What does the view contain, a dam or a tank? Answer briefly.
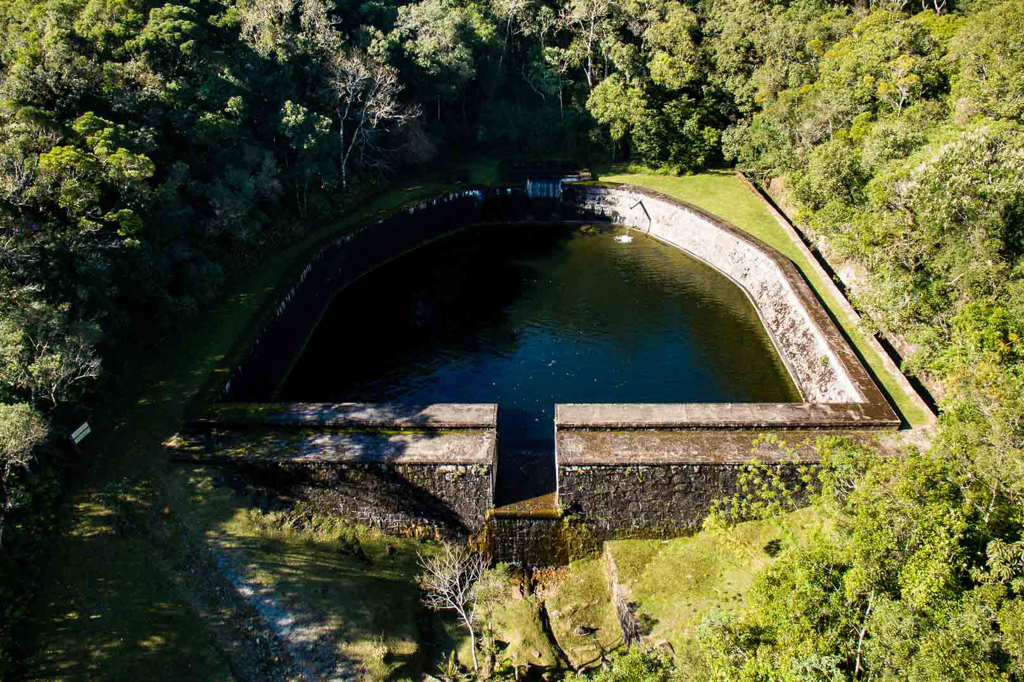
dam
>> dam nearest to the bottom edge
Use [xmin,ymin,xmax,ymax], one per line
[141,402,973,576]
